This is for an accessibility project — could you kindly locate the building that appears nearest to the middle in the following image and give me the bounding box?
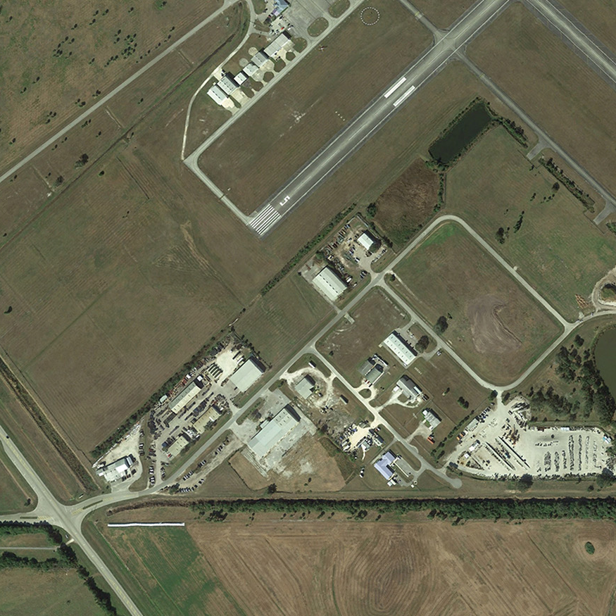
[312,267,346,301]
